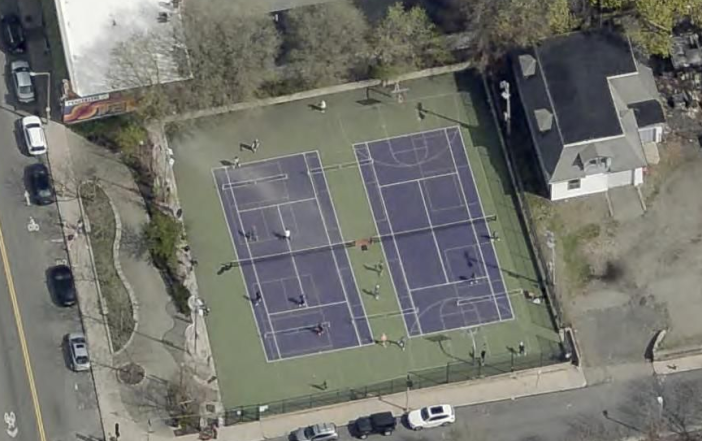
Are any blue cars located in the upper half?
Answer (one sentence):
No, looking in the upper half, there is no blue car.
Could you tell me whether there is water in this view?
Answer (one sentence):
No, the scene doesn't show any water.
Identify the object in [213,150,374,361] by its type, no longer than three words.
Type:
tennis court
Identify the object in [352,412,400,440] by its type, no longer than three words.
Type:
car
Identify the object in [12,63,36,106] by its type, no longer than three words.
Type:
car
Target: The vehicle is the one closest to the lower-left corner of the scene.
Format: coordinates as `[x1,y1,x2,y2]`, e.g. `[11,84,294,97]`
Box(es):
[66,333,90,374]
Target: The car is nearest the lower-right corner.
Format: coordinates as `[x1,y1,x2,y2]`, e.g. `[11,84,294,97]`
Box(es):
[407,405,457,432]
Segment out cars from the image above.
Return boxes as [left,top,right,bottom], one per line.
[407,405,457,432]
[66,333,90,374]
[12,63,36,106]
[29,165,53,208]
[50,266,75,311]
[352,412,400,440]
[293,421,342,441]
[23,117,47,158]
